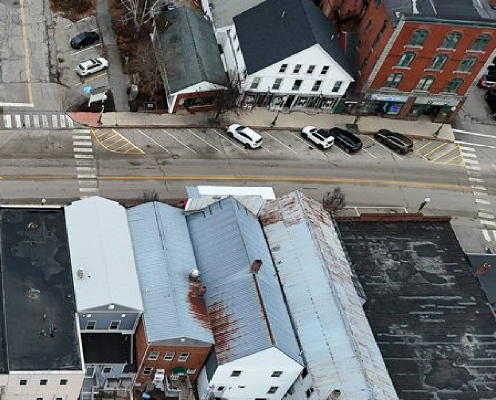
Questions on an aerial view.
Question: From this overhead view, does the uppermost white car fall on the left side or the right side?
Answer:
left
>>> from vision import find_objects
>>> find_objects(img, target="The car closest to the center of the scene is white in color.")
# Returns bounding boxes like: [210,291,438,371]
[224,123,267,149]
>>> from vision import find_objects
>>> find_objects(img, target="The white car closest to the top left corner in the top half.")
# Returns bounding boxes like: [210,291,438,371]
[74,56,112,77]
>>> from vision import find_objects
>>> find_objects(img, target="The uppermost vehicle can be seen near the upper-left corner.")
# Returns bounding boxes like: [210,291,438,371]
[69,31,102,50]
